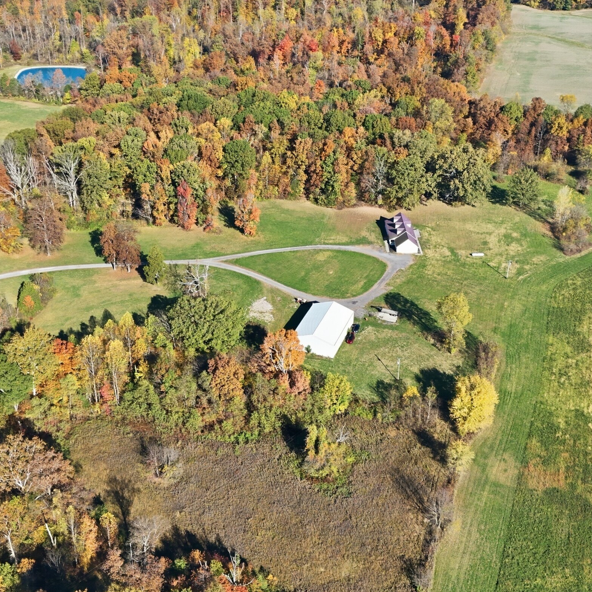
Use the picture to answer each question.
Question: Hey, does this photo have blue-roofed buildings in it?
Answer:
No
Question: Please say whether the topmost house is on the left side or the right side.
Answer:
right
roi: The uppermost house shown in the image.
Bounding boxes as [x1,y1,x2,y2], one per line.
[383,211,419,253]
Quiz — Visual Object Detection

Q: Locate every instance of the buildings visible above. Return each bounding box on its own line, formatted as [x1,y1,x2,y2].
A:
[294,299,355,358]
[383,211,419,253]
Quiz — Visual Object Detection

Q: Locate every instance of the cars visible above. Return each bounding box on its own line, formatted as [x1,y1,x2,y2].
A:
[351,322,360,332]
[346,332,356,343]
